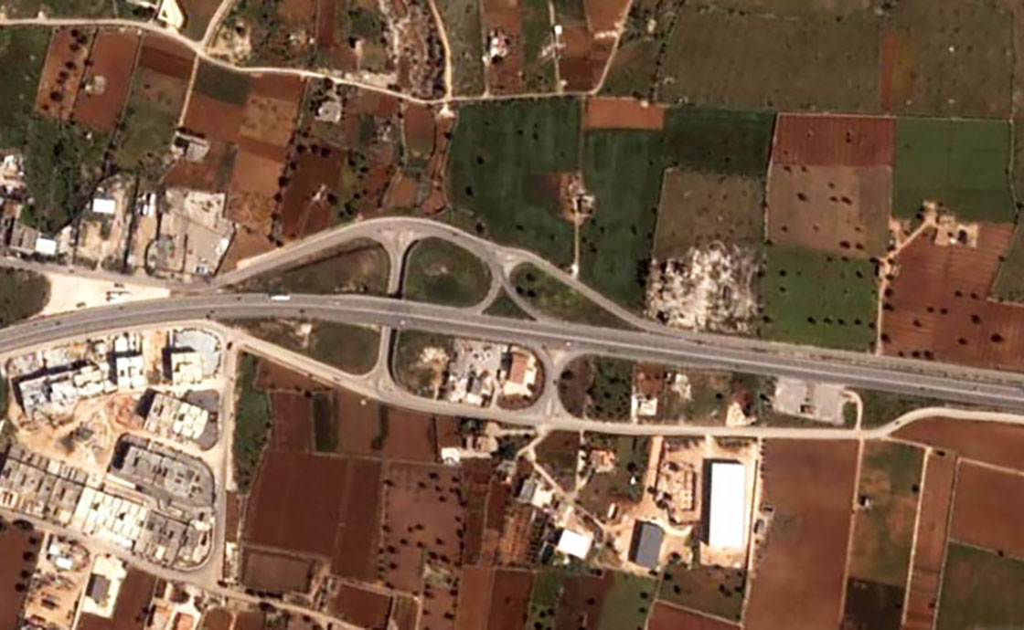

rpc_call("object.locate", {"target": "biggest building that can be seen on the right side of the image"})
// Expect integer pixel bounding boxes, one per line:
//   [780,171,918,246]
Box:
[710,463,745,549]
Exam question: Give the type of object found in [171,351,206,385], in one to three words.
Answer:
building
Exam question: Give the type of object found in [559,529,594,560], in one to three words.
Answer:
building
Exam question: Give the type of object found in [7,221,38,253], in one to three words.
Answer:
shed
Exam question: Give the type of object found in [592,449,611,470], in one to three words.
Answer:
house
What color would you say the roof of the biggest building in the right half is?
white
